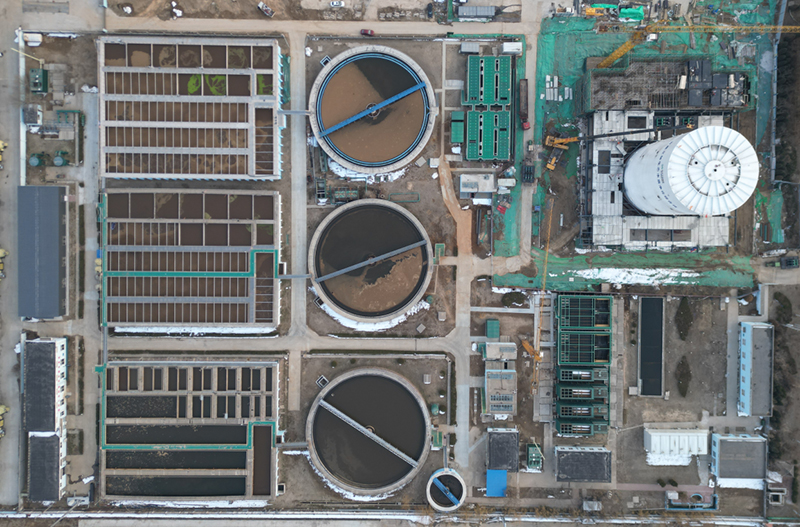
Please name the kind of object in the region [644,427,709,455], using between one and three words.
shed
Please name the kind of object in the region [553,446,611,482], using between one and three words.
house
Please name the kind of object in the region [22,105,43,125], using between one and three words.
building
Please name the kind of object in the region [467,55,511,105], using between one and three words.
building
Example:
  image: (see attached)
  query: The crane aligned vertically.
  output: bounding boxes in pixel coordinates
[513,197,556,397]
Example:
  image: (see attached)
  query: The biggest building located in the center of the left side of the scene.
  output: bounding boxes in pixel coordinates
[18,186,72,316]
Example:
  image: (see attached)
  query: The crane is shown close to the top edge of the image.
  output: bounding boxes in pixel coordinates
[590,22,800,70]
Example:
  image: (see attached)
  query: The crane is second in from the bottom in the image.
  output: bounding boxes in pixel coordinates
[543,123,693,175]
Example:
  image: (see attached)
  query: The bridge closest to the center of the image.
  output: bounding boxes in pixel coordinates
[315,240,427,283]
